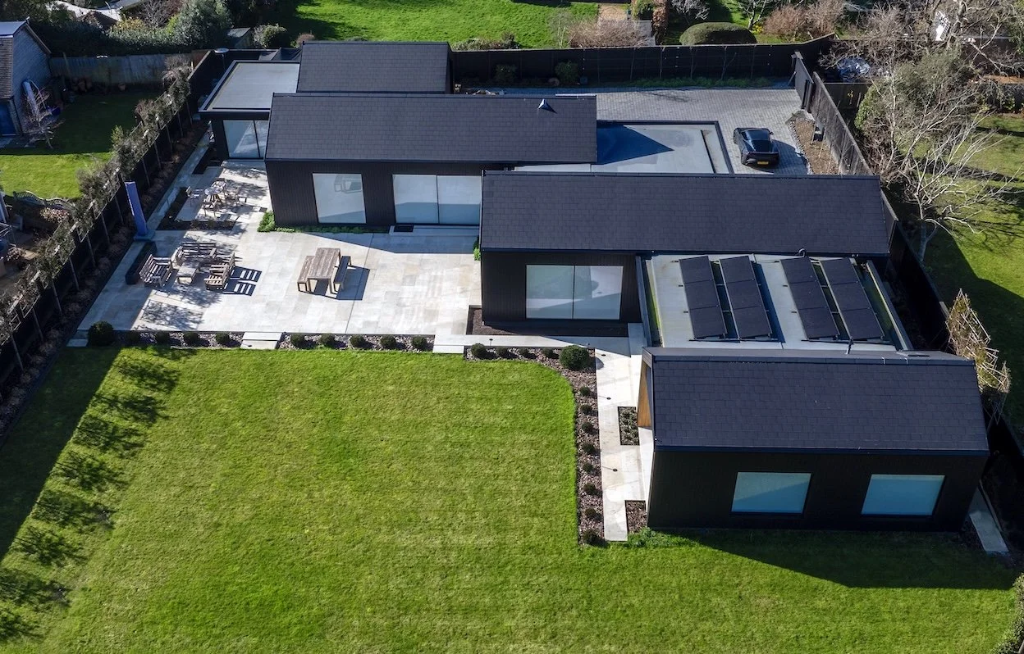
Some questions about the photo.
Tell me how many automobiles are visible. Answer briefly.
1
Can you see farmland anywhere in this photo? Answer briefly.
No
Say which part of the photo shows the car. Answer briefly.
top right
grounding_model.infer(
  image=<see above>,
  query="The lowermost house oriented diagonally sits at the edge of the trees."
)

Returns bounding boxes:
[199,41,990,534]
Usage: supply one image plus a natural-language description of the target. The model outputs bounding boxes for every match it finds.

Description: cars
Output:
[732,121,782,165]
